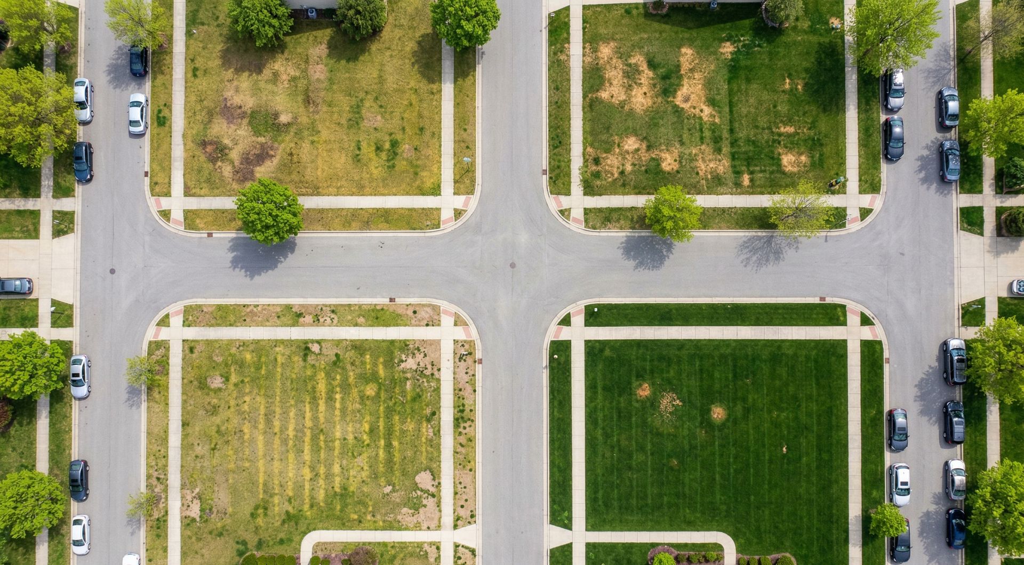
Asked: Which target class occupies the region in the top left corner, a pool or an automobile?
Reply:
automobile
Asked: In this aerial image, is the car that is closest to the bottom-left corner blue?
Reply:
No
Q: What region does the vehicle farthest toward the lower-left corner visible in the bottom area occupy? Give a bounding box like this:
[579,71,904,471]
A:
[70,513,96,554]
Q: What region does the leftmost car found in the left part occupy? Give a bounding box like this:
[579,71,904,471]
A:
[0,276,35,296]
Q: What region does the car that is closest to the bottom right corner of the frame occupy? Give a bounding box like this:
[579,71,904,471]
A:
[941,506,967,549]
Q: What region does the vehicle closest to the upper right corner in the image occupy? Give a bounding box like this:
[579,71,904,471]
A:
[934,88,959,129]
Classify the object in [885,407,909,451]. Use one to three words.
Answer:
car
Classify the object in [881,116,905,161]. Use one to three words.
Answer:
car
